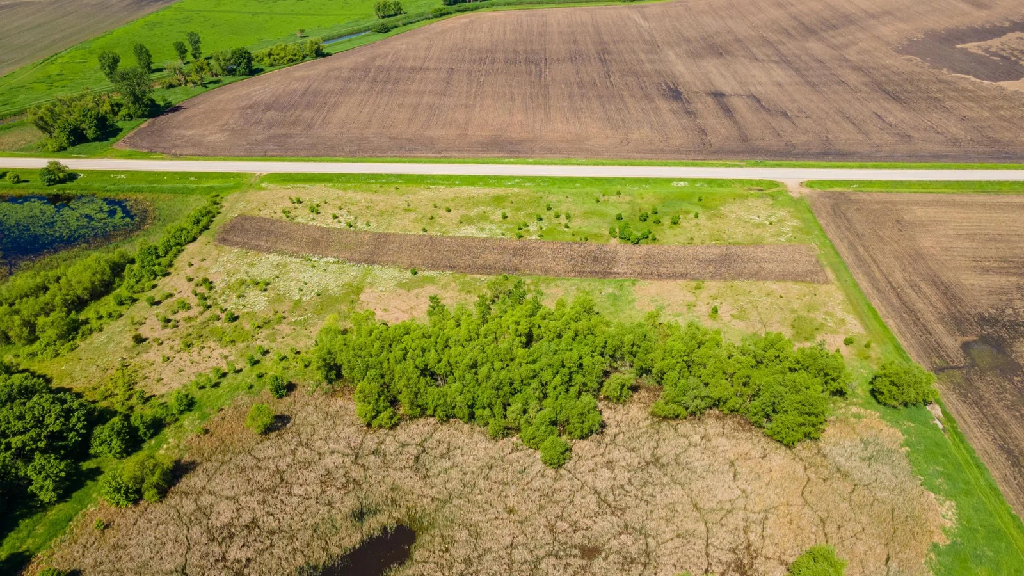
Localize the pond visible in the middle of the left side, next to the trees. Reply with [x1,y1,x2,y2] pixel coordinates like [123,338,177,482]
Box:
[0,193,145,274]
